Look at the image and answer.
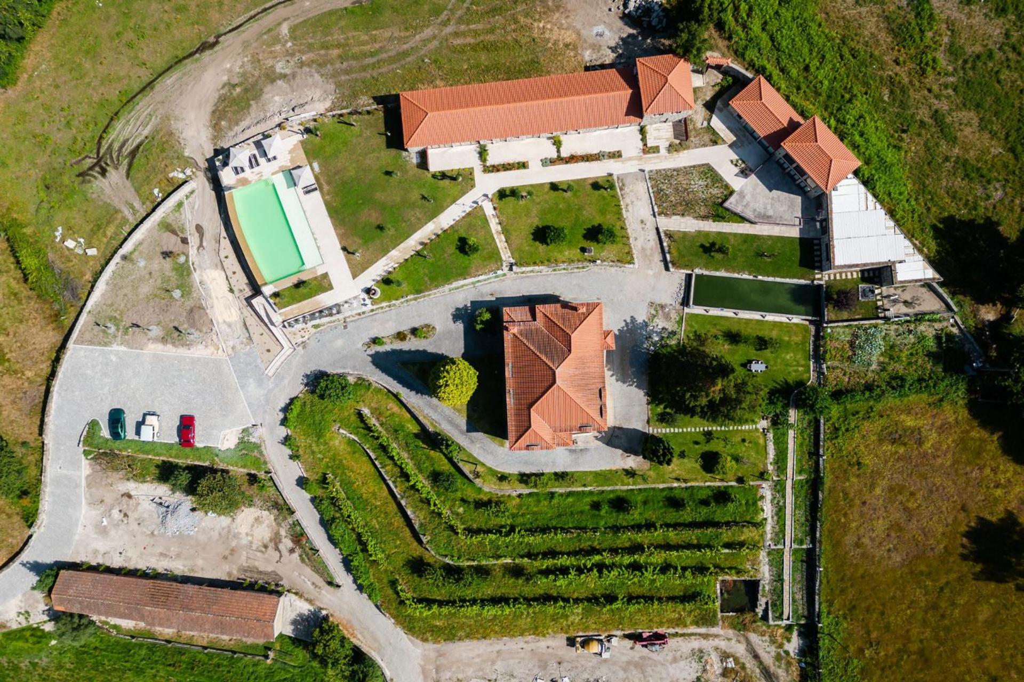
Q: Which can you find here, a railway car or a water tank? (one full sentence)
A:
It is a water tank that can be seen here.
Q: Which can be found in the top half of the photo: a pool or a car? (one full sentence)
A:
There is a pool in the top half of the photo.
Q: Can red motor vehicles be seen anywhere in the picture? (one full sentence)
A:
Yes, the image includes a red motor vehicle.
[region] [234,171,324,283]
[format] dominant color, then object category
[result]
green swimming pool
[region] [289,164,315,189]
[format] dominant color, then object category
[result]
white umbrella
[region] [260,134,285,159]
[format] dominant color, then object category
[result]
white umbrella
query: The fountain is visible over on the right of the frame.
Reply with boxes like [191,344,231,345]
[859,284,877,300]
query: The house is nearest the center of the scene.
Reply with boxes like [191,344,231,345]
[503,302,616,451]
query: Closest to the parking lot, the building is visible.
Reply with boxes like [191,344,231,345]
[51,567,286,641]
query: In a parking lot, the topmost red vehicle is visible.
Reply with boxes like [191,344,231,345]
[175,415,194,449]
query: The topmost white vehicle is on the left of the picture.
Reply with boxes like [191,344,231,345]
[137,412,158,443]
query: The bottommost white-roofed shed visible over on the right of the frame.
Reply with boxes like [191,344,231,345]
[819,175,943,286]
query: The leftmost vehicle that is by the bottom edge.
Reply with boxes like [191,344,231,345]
[577,639,617,665]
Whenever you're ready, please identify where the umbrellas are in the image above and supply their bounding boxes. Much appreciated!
[260,134,285,159]
[289,164,315,189]
[229,146,251,168]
